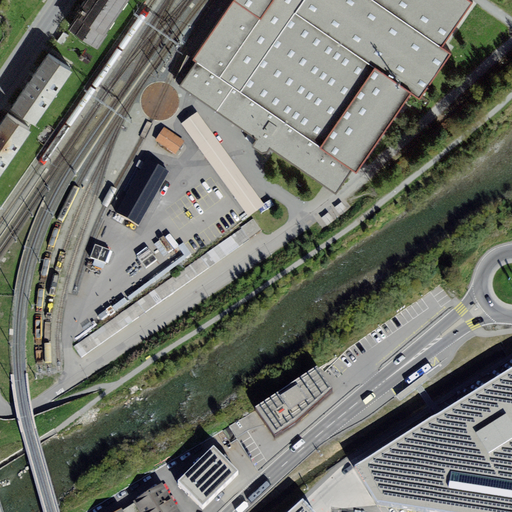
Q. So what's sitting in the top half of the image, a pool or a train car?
train car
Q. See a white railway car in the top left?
Yes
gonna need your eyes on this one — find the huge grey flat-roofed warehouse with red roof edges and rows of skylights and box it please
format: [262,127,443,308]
[180,0,472,196]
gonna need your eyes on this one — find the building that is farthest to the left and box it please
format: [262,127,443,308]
[0,114,30,181]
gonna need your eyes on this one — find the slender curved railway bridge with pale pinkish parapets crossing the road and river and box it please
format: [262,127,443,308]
[11,370,60,512]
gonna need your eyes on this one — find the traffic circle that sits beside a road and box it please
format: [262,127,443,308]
[472,242,512,326]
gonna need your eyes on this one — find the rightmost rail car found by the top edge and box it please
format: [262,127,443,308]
[118,4,152,48]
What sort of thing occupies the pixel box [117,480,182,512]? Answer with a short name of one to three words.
house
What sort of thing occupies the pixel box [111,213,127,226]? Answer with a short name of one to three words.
vehicle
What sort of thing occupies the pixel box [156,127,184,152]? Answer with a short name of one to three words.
shed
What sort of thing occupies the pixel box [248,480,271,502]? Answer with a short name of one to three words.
truck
